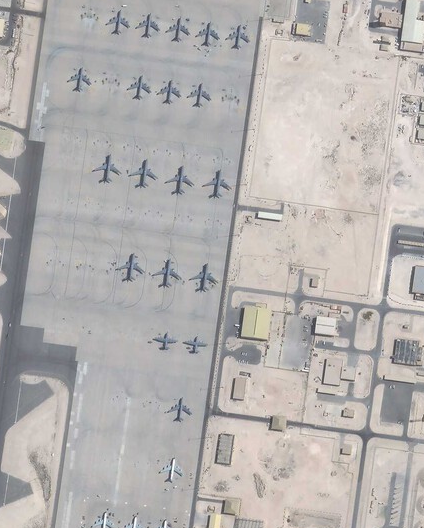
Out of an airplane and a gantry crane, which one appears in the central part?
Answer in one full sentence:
The one visible in the central part is an airplane.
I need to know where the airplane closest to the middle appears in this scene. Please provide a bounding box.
[190,264,219,292]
